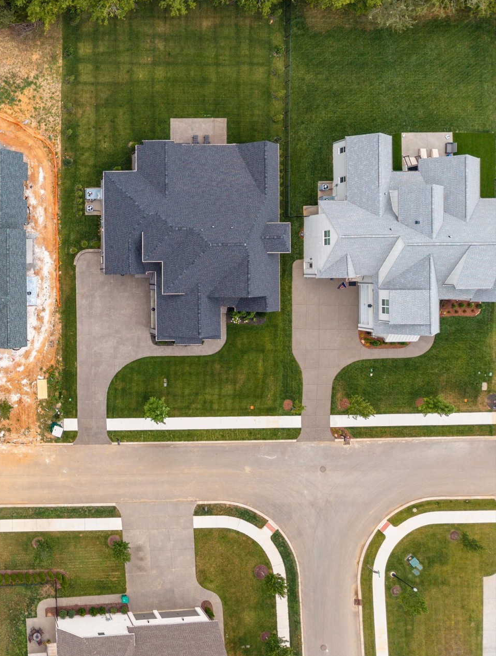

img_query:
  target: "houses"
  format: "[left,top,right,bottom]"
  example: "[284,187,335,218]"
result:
[0,149,27,349]
[304,133,496,341]
[101,139,291,346]
[56,608,229,656]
